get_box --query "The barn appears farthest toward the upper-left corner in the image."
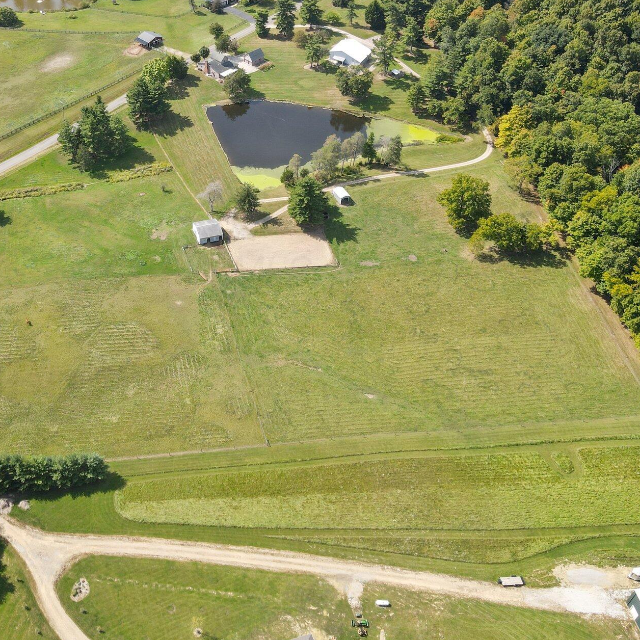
[131,33,162,50]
